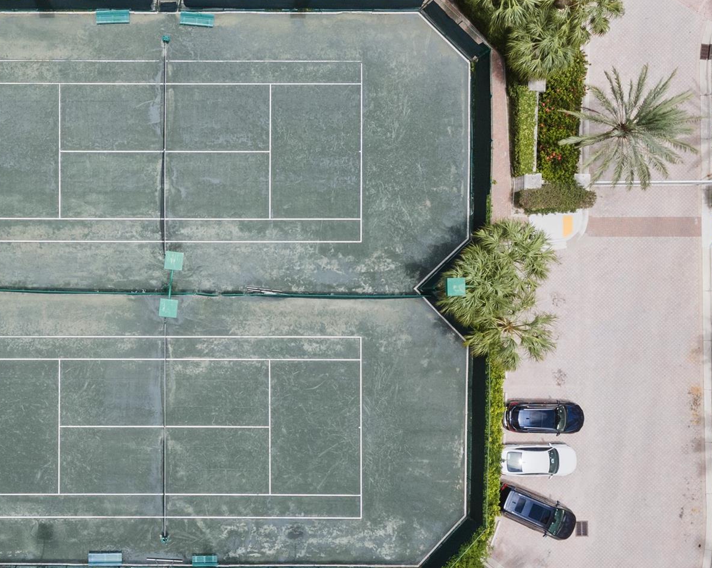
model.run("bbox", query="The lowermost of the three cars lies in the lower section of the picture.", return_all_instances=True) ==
[494,482,578,539]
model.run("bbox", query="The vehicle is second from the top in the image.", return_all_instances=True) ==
[497,442,576,480]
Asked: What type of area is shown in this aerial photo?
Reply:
sports ground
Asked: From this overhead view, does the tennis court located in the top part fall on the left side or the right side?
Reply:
left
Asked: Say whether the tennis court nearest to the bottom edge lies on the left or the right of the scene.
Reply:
left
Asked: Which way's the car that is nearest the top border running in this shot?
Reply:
from side to side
